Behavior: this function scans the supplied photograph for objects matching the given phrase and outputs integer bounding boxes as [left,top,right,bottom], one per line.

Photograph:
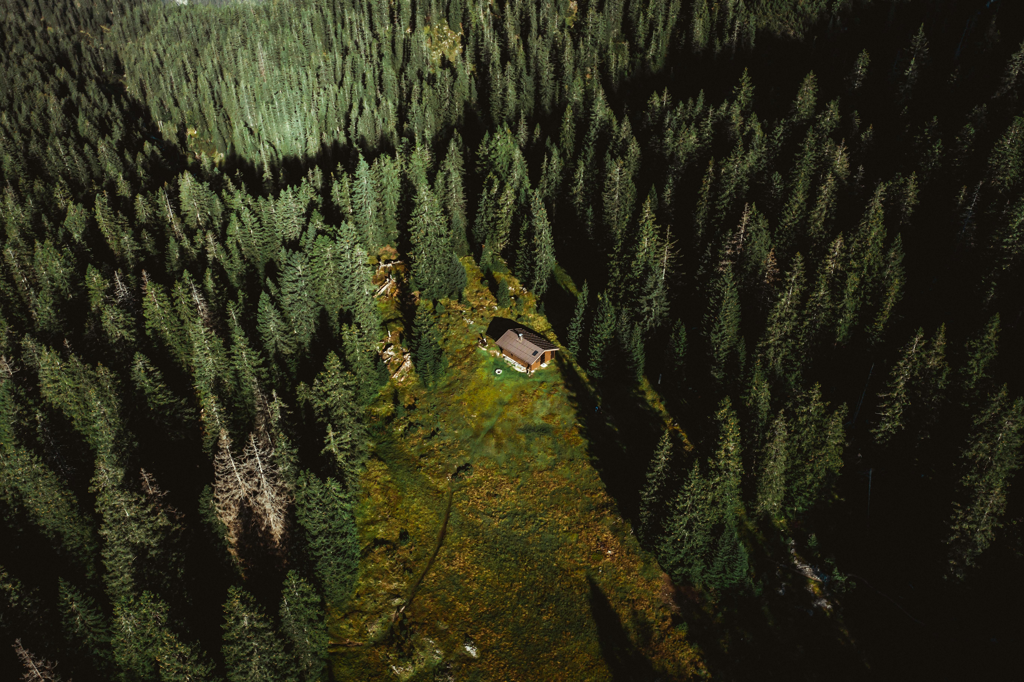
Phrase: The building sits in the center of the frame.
[494,328,560,374]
